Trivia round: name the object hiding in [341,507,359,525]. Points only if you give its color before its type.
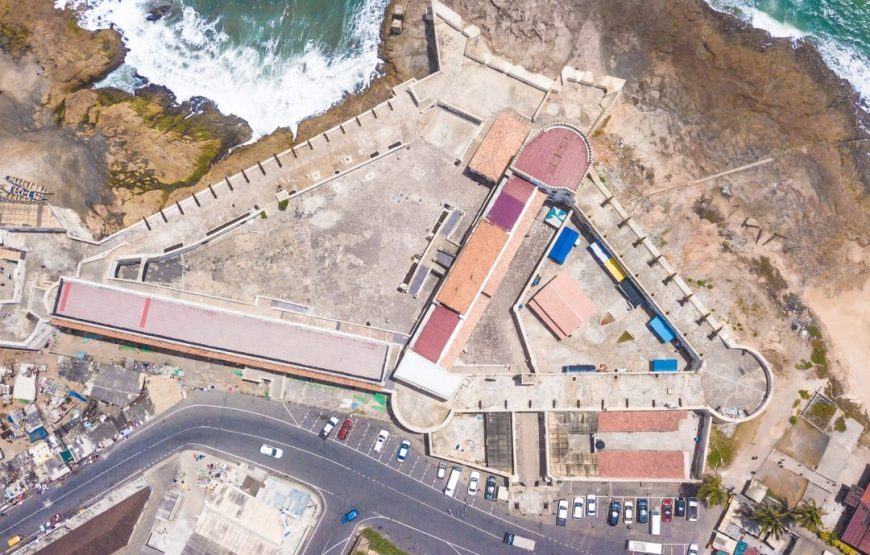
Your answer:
blue car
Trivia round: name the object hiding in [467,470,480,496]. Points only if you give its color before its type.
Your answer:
white vehicle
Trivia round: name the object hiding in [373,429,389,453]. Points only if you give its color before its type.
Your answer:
white car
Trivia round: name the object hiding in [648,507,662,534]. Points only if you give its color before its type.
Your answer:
white vehicle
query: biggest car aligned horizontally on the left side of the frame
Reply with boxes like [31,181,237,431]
[260,445,284,458]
